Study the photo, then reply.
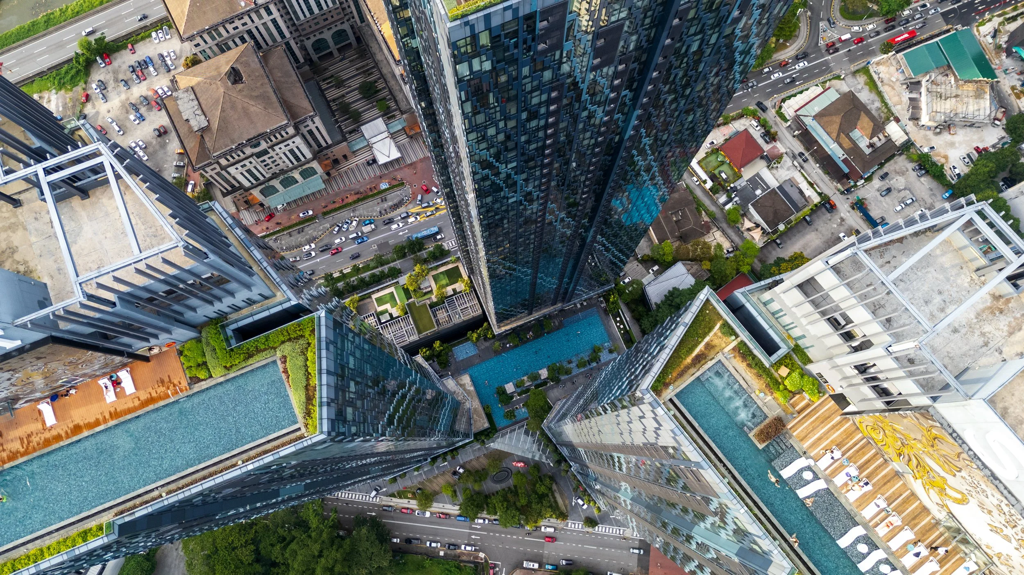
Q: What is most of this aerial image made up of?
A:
buildings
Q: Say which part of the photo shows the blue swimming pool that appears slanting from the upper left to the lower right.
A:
bottom right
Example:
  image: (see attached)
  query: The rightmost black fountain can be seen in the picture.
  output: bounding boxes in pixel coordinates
[490,468,512,484]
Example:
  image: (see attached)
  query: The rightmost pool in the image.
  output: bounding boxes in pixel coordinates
[675,360,860,575]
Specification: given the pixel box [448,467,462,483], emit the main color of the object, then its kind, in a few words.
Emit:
black vehicle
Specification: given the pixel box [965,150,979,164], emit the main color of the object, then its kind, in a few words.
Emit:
gray vehicle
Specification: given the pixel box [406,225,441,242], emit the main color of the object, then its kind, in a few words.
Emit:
blue vehicle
